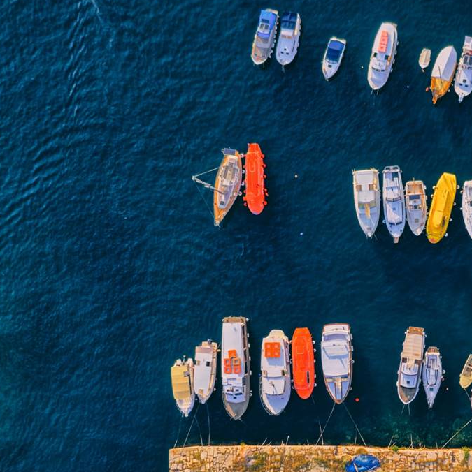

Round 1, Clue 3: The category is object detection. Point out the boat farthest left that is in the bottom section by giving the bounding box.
[171,356,197,425]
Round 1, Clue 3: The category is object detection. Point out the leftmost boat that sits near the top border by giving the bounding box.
[251,7,278,69]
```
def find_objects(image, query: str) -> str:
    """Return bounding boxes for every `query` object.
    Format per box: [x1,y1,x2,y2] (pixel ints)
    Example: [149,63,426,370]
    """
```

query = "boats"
[171,356,197,425]
[190,148,242,229]
[290,328,317,399]
[404,180,428,237]
[426,46,457,110]
[352,170,383,240]
[321,324,355,405]
[275,8,303,69]
[454,32,472,102]
[418,48,432,68]
[381,167,406,245]
[460,354,472,388]
[366,22,399,96]
[422,344,443,409]
[218,317,252,422]
[243,143,268,215]
[251,7,278,69]
[396,326,428,419]
[323,36,346,81]
[460,180,472,238]
[260,326,292,417]
[196,339,218,415]
[426,172,460,244]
